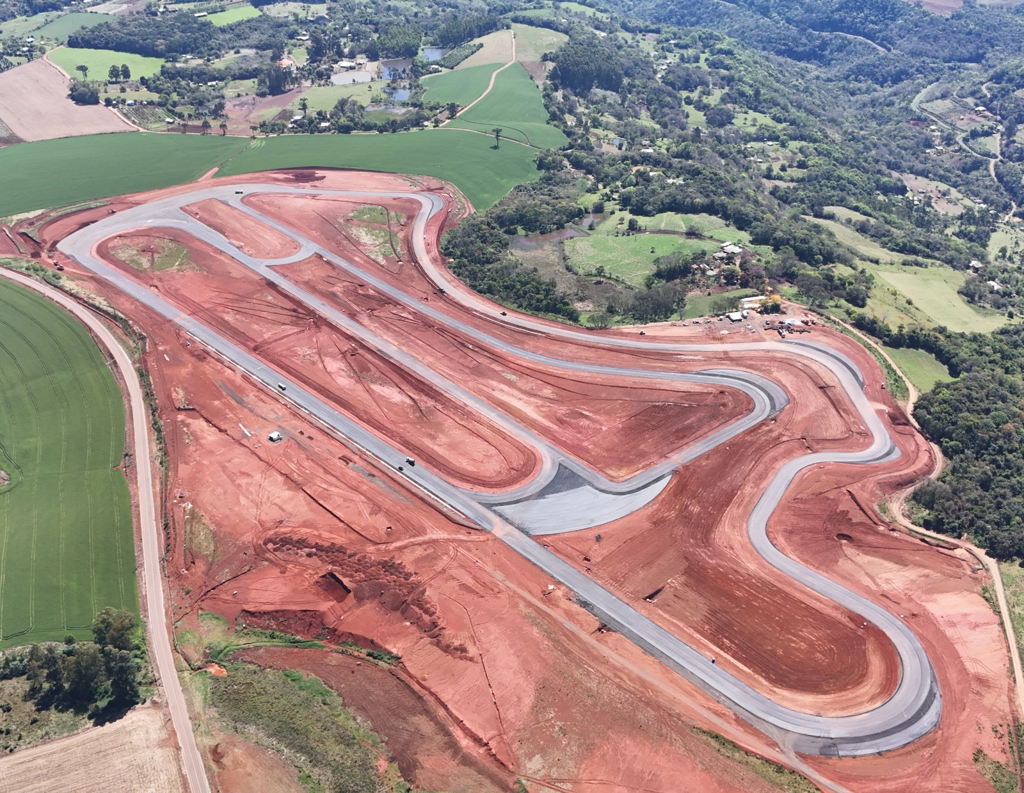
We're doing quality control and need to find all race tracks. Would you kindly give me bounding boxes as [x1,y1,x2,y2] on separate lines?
[56,183,942,757]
